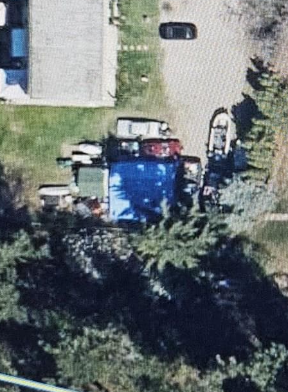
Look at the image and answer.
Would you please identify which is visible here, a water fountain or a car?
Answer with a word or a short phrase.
car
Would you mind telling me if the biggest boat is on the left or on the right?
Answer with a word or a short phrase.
right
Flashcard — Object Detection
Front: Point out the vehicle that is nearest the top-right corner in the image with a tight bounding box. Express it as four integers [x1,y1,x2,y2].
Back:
[160,22,197,40]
